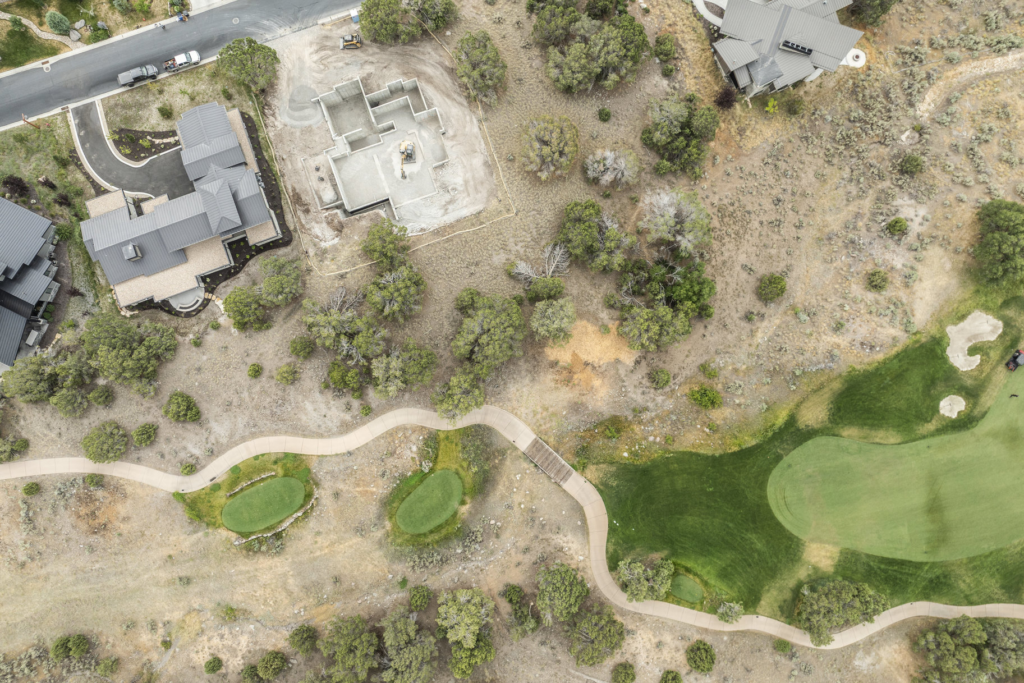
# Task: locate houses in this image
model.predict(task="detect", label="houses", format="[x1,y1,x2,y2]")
[705,0,863,99]
[0,197,73,367]
[80,102,286,308]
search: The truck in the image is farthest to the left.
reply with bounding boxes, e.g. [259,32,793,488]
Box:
[112,63,158,87]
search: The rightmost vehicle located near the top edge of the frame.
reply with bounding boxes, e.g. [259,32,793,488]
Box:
[340,32,362,49]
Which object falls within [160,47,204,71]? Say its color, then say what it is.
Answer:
white truck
